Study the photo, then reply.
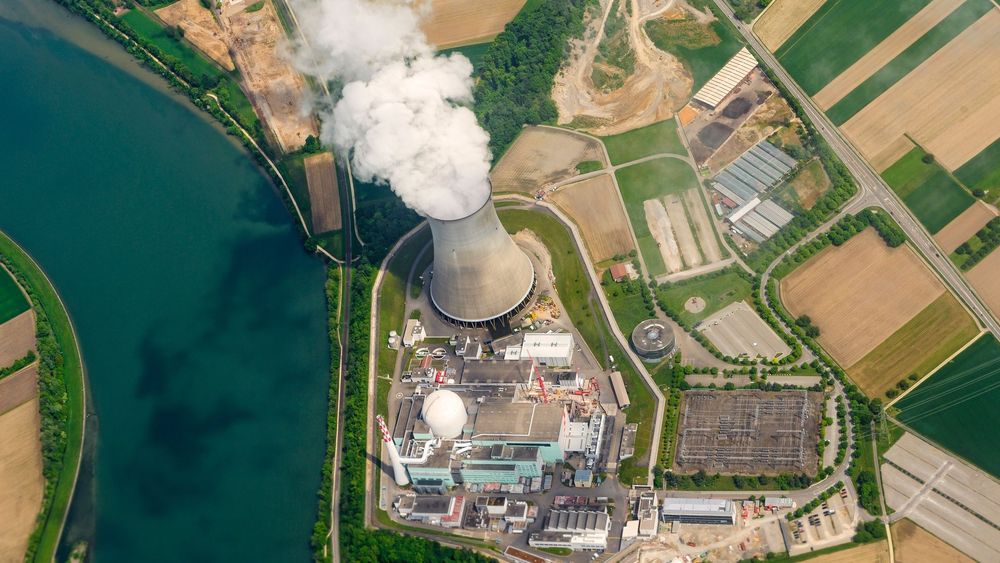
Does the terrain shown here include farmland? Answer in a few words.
Yes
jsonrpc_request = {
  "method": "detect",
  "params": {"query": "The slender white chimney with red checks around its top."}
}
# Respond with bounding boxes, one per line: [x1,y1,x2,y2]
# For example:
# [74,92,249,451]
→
[378,417,409,486]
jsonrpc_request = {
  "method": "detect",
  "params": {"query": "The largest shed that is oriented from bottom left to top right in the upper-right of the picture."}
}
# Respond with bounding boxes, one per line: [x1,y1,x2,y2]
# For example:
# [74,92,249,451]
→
[690,52,767,111]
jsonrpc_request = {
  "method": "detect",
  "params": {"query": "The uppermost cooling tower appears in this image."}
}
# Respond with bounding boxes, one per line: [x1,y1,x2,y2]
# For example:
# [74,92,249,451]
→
[425,173,539,331]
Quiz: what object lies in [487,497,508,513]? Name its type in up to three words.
building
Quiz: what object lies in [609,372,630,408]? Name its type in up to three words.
shed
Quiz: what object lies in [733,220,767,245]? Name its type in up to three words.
greenhouse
